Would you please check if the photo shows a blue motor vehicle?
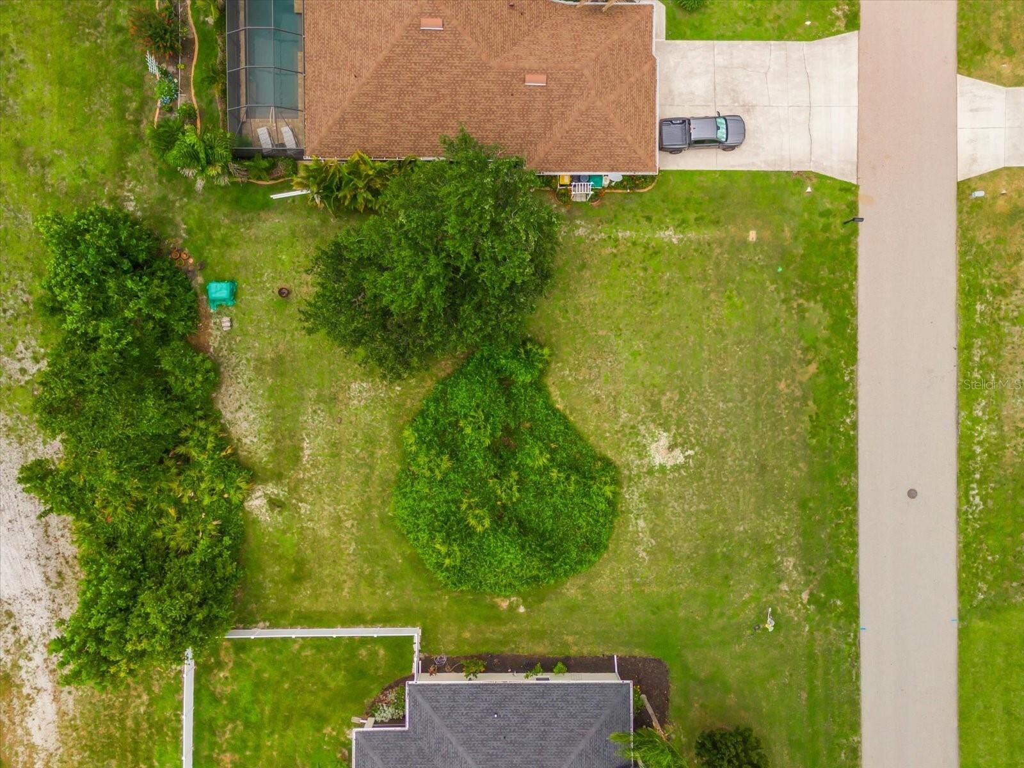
No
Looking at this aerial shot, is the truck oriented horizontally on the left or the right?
right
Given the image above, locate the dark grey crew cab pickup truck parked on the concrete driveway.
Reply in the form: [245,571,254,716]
[660,113,745,154]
